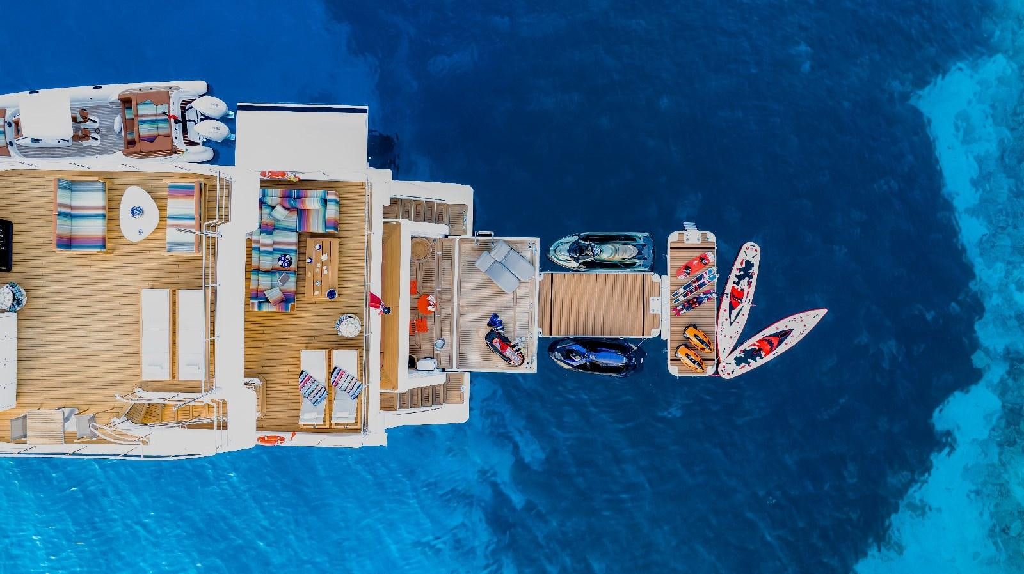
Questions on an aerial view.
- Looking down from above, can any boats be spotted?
Yes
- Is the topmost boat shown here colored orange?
No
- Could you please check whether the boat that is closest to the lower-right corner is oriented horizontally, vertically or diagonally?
horizontally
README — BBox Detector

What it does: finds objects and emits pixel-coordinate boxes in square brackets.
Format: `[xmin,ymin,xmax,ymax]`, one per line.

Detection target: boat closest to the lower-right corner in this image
[547,337,648,376]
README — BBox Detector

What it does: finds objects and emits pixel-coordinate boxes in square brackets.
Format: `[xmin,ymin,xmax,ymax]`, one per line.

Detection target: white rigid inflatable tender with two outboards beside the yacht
[0,79,237,163]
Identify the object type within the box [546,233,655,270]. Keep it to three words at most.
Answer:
boat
